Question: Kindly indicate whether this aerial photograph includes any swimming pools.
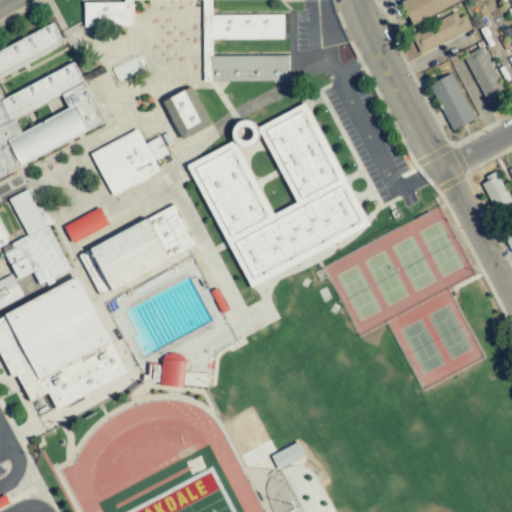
Yes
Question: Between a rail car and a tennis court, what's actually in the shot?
tennis court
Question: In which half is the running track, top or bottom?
bottom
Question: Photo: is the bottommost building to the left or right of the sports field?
on its right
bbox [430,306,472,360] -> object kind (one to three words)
tennis court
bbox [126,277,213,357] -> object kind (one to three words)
swimming pool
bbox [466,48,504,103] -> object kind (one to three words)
house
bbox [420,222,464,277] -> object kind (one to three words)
tennis court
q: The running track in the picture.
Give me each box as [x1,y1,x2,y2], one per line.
[63,400,269,512]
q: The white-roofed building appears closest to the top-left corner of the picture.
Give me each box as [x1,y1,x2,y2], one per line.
[0,23,63,74]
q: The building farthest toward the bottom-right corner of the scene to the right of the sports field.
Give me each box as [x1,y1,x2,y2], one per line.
[272,442,306,468]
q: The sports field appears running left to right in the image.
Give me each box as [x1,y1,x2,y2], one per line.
[100,446,245,512]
